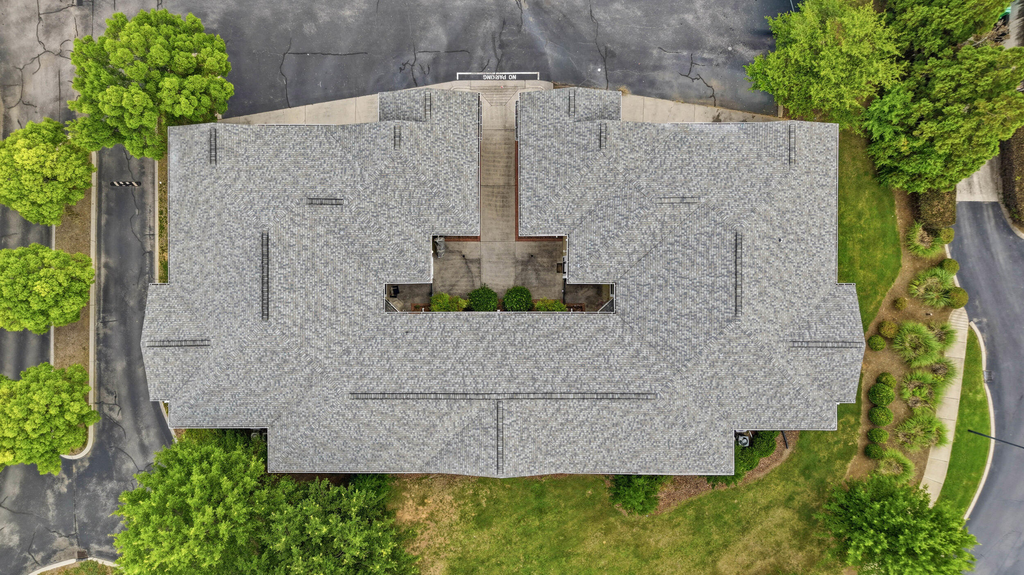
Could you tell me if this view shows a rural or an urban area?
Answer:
urban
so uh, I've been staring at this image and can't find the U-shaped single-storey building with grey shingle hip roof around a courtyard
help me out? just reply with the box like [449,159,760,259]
[140,87,865,481]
